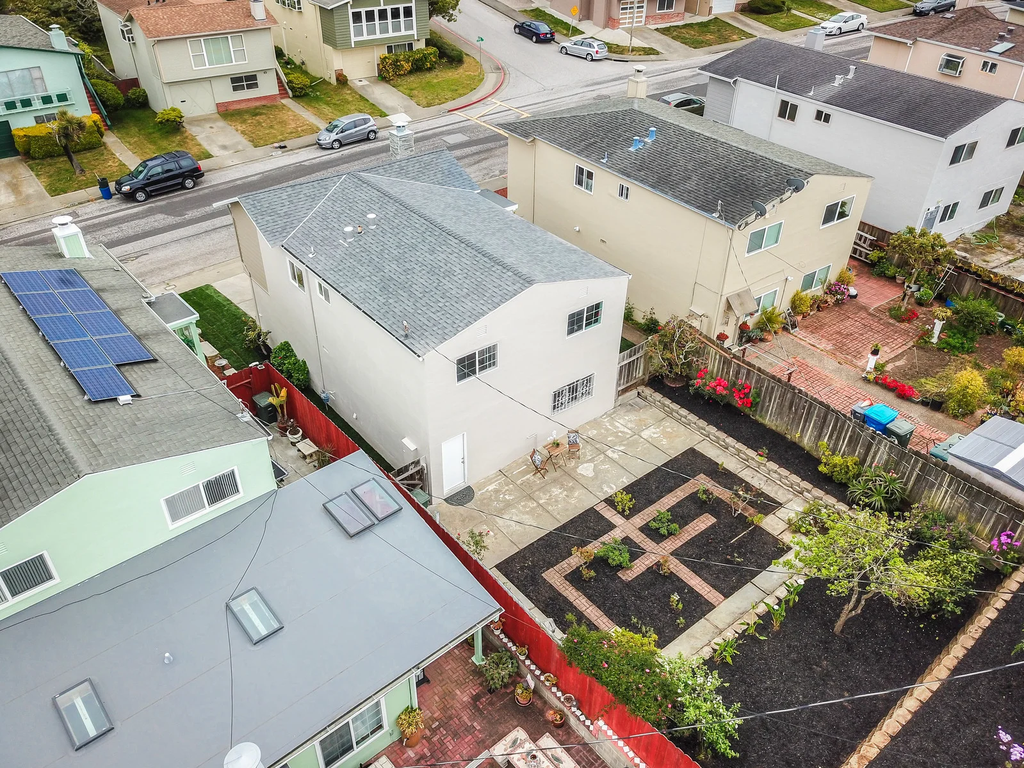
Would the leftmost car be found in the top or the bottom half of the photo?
top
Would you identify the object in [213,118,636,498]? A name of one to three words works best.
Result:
house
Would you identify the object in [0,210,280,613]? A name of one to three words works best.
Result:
house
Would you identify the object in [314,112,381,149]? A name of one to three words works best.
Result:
car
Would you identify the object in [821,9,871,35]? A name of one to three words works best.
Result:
car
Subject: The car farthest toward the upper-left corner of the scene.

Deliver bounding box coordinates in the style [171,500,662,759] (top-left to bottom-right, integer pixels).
[109,147,208,201]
